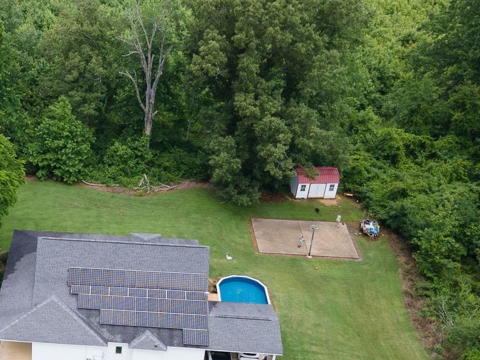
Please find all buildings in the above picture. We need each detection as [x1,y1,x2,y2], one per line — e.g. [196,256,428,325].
[0,231,284,360]
[288,166,340,198]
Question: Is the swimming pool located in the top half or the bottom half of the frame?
bottom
